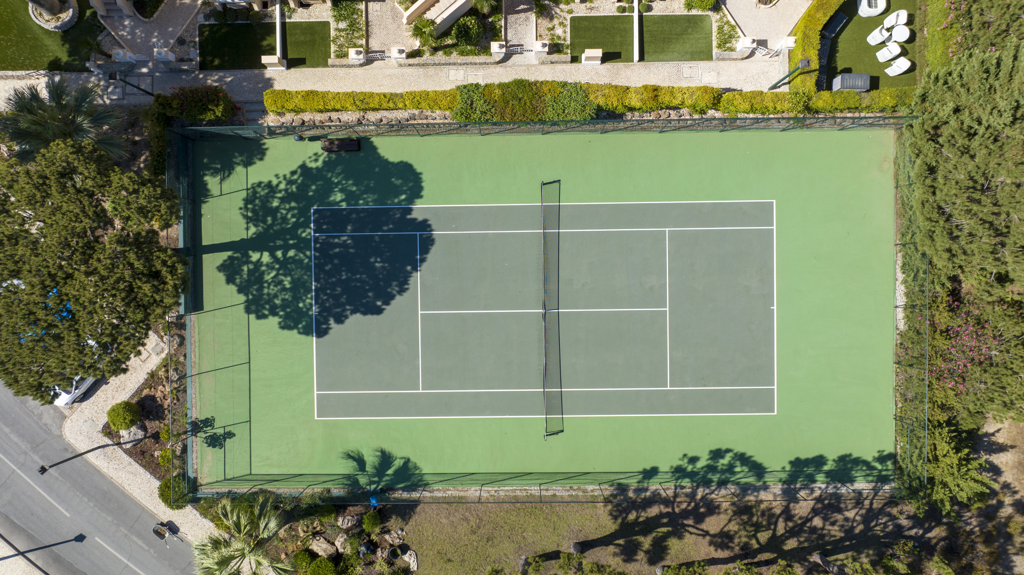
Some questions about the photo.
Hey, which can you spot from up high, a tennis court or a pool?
tennis court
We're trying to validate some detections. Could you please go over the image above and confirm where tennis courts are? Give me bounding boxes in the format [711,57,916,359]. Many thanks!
[194,130,895,487]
